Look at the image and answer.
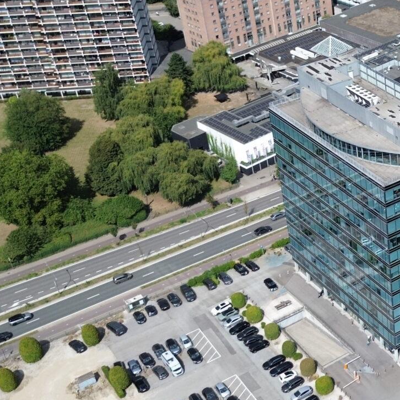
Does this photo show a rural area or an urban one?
urban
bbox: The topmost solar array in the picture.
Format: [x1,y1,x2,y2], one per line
[266,29,328,53]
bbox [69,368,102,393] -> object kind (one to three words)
shed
